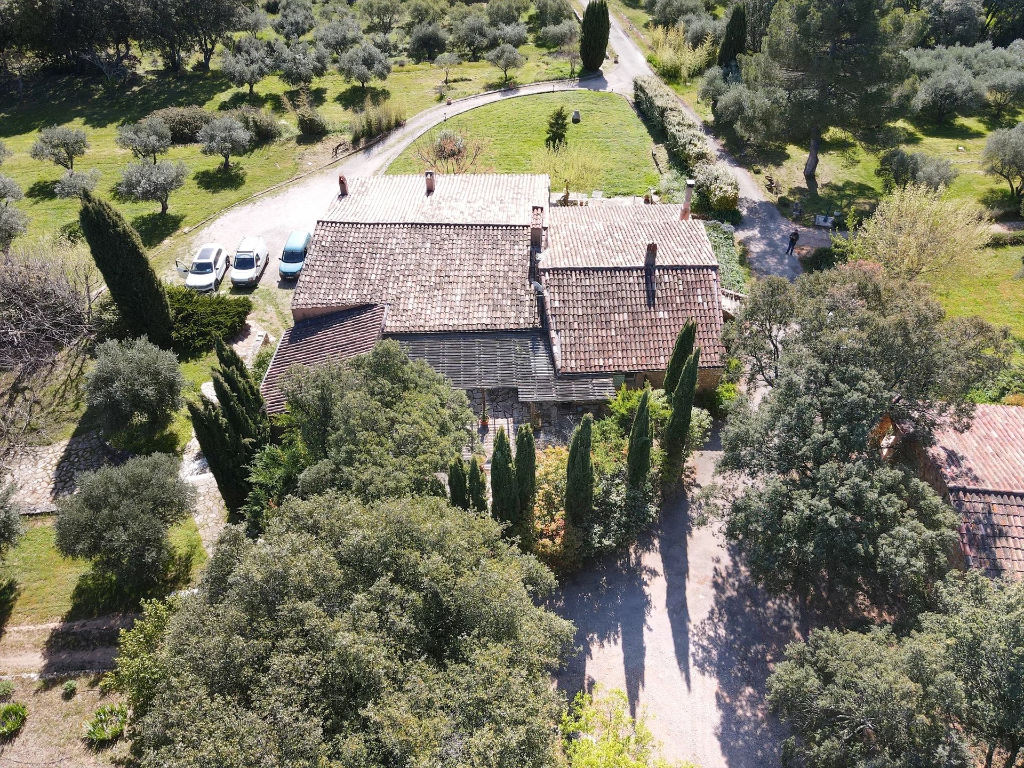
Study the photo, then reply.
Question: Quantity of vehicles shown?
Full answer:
I count 3 vehicles.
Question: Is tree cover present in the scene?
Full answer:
Yes, there is tree cover in the image.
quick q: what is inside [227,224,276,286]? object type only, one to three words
van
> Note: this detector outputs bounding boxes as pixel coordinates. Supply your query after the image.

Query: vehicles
[227,224,276,286]
[172,244,233,295]
[275,220,312,278]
